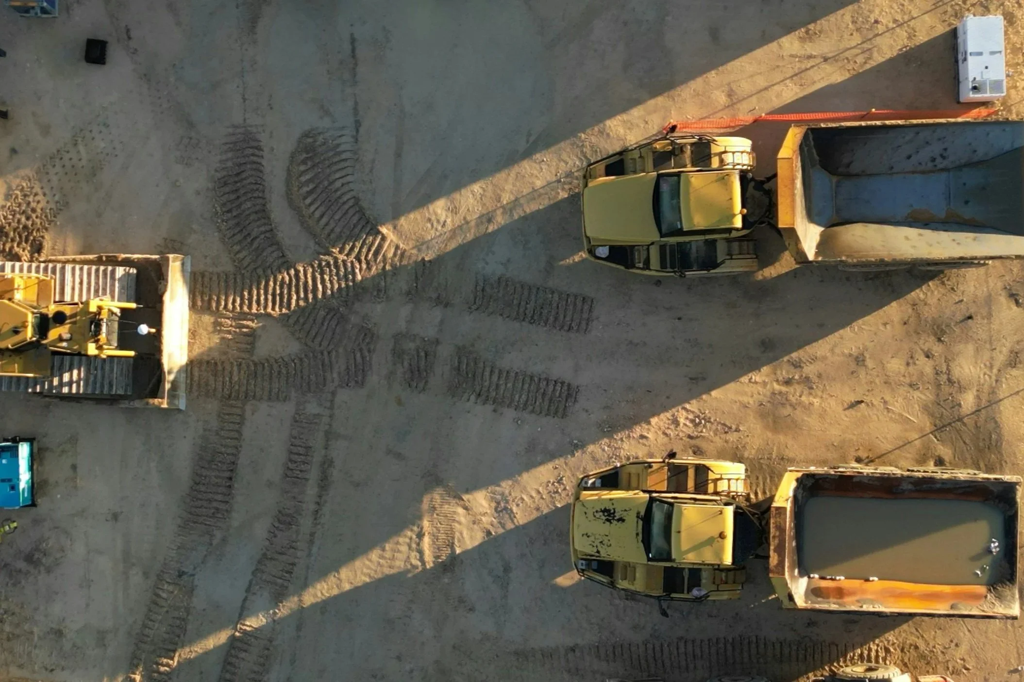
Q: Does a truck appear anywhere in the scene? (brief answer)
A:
Yes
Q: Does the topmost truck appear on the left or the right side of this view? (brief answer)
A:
right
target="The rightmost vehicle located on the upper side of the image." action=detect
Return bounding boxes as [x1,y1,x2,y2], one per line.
[576,111,1024,288]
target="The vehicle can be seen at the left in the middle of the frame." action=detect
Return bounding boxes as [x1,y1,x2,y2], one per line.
[0,254,190,412]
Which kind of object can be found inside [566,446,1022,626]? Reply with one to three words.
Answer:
truck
